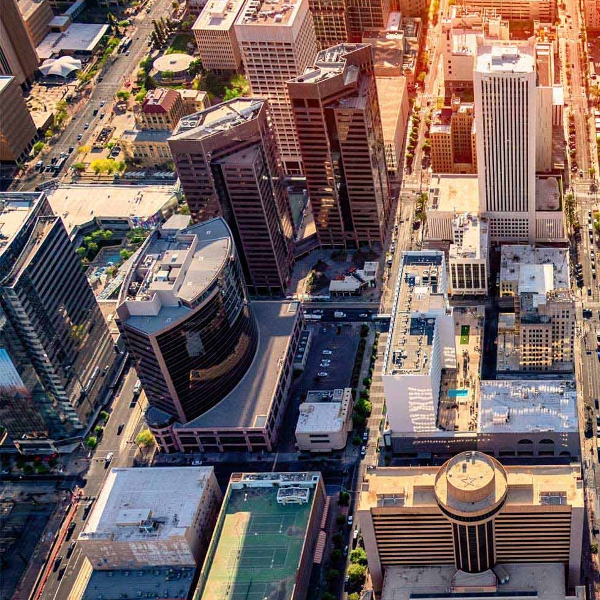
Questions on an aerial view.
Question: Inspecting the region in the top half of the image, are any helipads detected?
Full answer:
No, looking in the top half of the image, there is no helipad.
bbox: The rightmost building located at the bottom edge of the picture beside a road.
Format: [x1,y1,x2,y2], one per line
[357,452,587,600]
